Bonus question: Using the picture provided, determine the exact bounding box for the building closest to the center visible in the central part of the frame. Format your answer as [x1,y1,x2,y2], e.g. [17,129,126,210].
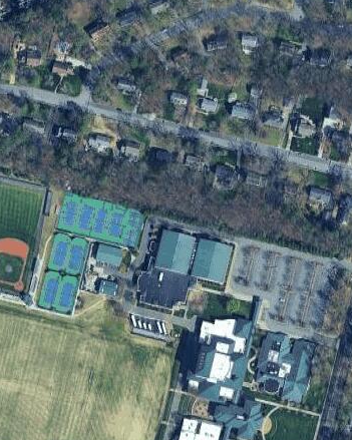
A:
[155,230,196,275]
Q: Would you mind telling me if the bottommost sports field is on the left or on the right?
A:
left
